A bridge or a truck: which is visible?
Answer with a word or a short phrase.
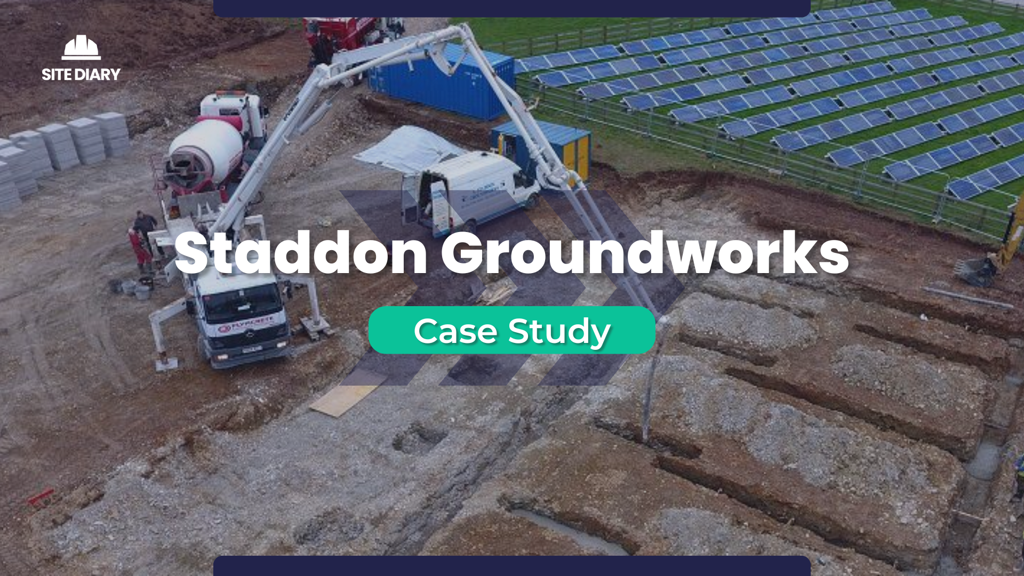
truck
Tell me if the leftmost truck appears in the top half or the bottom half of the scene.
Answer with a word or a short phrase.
top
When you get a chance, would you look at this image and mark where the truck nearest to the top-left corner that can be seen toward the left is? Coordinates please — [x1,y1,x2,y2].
[141,87,289,217]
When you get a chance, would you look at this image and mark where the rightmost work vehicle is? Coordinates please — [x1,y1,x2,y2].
[951,190,1024,294]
